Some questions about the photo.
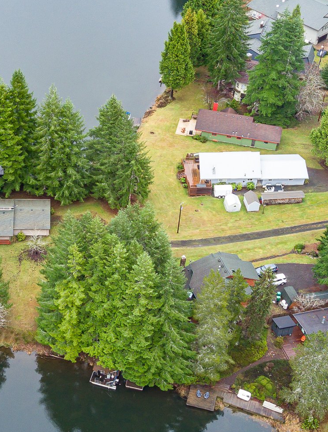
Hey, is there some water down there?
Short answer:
Yes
